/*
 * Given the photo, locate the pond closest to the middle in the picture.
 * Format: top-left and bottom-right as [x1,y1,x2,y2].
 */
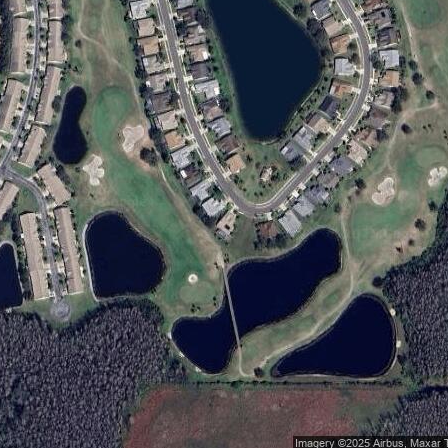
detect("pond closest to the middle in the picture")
[85,211,164,299]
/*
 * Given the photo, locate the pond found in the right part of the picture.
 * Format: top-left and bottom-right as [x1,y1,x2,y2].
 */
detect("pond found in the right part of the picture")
[274,295,394,376]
